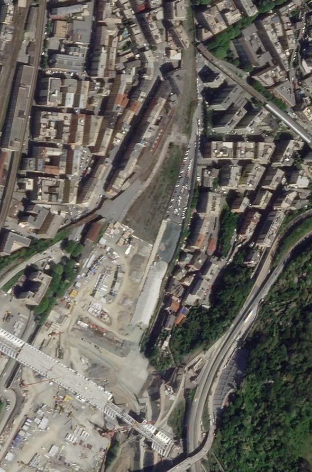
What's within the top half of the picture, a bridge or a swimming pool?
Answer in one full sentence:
The feature located within the top half of the picture is a bridge.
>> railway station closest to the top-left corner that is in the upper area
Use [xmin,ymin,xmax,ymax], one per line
[4,66,36,150]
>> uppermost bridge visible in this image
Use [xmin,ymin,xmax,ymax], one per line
[195,40,271,108]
